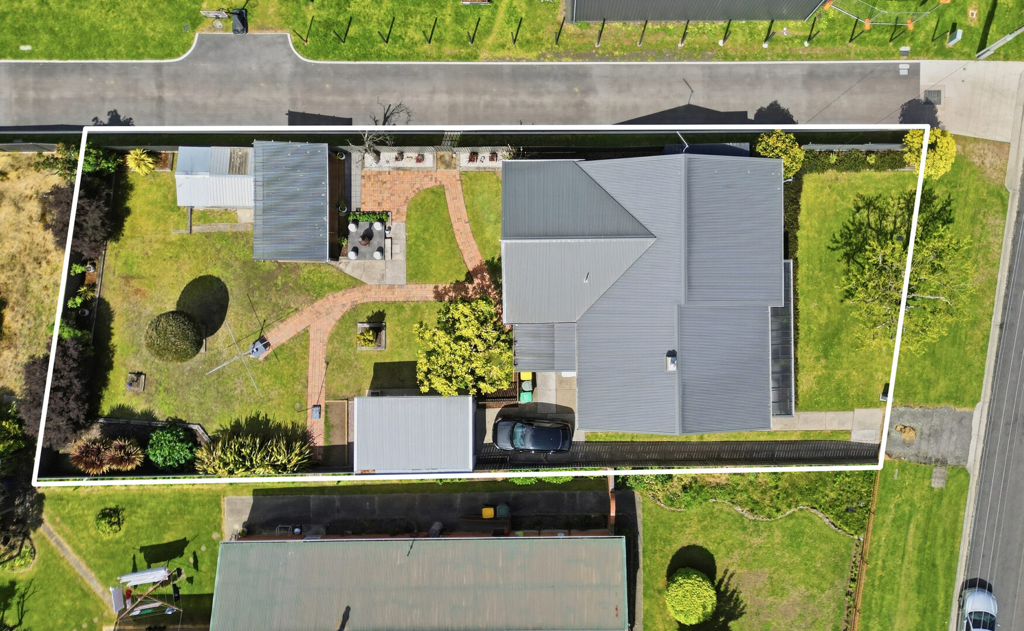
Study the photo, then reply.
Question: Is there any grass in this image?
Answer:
Yes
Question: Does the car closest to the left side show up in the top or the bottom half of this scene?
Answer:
bottom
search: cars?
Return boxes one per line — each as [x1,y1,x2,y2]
[961,585,1006,631]
[493,414,573,456]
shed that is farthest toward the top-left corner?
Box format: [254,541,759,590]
[170,146,254,208]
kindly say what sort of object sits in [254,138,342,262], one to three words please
shed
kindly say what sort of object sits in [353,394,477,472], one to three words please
building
